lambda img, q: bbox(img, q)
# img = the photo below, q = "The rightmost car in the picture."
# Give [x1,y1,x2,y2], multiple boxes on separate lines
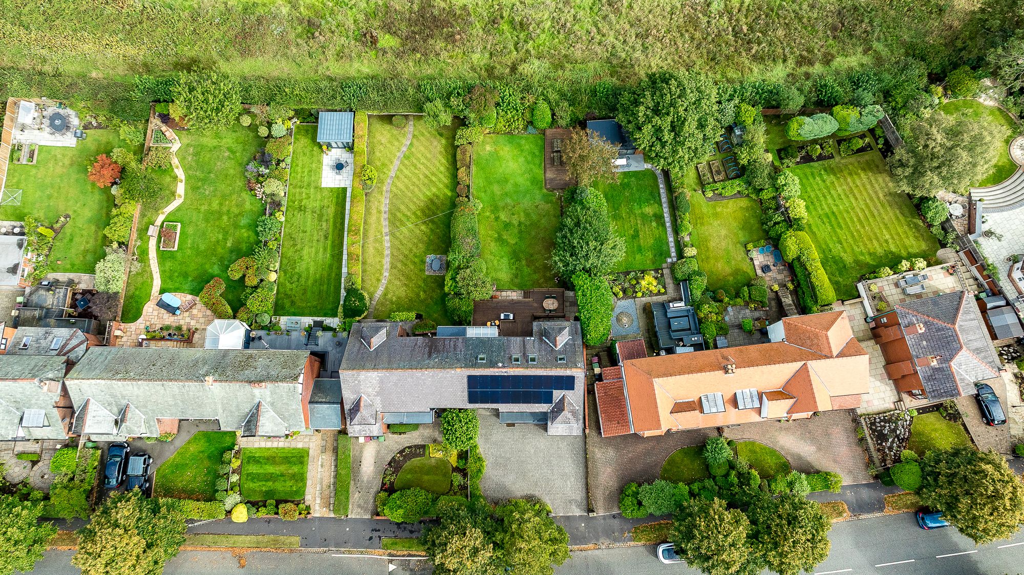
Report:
[971,381,1007,430]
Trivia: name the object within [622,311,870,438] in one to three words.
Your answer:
house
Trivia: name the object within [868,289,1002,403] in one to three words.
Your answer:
house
